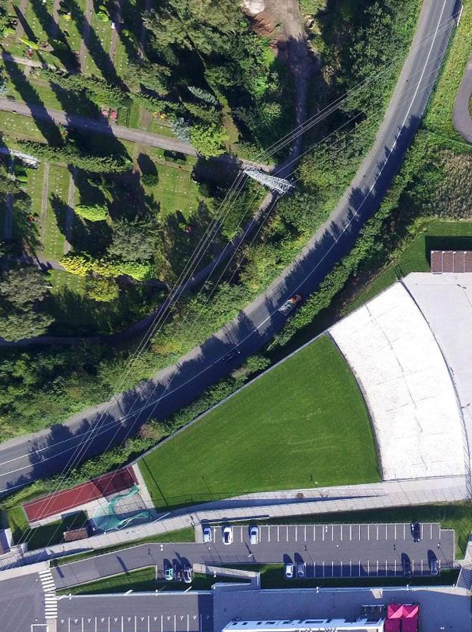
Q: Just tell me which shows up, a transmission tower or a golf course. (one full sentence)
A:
Visible in the photo is a transmission tower.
